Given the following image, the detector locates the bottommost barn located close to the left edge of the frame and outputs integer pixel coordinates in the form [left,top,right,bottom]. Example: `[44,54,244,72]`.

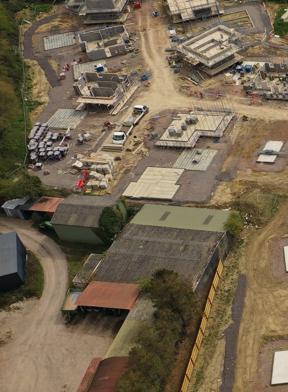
[0,228,33,298]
